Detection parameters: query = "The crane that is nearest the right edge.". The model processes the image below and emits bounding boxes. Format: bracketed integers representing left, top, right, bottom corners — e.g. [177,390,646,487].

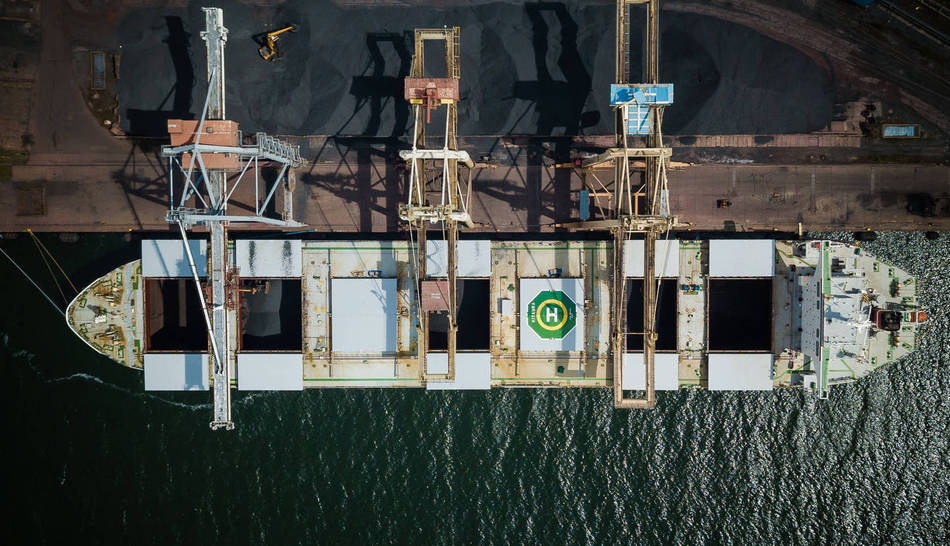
[547,0,702,408]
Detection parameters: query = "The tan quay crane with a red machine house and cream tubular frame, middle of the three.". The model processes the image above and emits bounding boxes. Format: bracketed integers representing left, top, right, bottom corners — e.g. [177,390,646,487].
[386,28,497,385]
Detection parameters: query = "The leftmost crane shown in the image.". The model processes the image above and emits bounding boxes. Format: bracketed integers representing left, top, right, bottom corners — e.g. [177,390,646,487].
[157,7,317,431]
